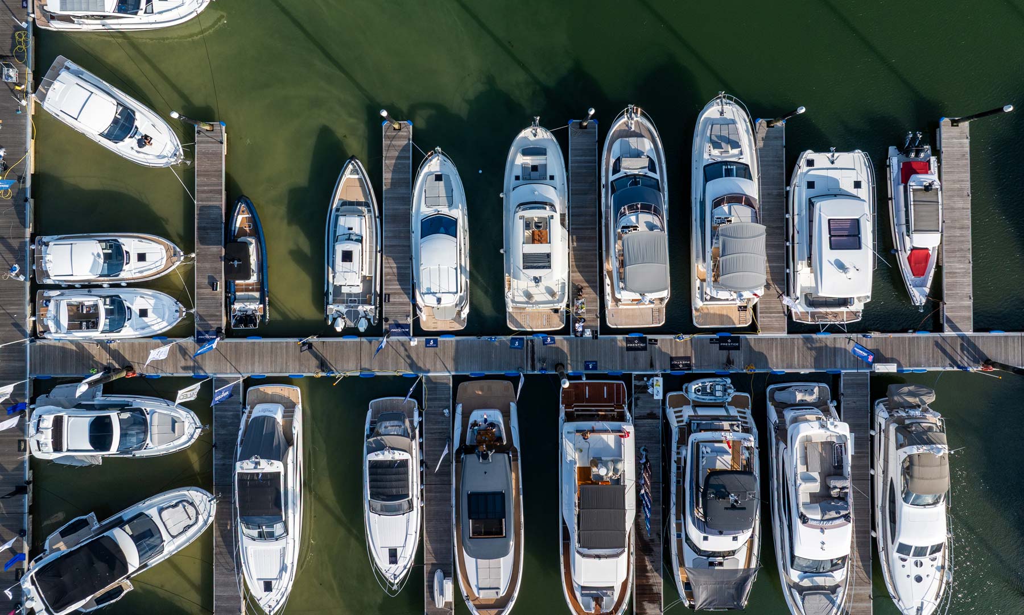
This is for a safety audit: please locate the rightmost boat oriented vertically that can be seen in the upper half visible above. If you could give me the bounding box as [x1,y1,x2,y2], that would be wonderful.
[883,130,943,311]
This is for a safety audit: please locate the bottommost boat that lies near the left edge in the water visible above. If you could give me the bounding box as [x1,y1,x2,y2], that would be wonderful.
[14,490,227,615]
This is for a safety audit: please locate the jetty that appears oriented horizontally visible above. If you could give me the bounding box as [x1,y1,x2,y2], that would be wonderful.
[32,329,1024,380]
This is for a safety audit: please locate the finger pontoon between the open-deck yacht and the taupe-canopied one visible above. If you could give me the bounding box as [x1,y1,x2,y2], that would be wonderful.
[839,371,872,615]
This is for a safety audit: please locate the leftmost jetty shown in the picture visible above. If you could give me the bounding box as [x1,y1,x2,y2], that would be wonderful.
[0,0,37,615]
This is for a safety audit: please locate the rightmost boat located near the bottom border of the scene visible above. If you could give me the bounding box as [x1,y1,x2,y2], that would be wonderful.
[870,397,965,615]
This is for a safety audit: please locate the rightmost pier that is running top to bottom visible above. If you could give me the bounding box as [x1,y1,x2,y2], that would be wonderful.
[935,116,973,333]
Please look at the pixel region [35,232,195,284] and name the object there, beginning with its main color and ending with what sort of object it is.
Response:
white boat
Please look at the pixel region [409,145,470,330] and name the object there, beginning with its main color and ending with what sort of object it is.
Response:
white boat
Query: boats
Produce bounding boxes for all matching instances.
[764,382,856,615]
[37,287,198,340]
[453,380,523,615]
[225,194,270,328]
[664,391,769,612]
[785,147,891,333]
[364,397,422,598]
[36,56,191,167]
[234,384,306,615]
[689,91,766,328]
[600,102,669,328]
[14,490,227,615]
[35,232,195,284]
[772,384,818,402]
[883,130,943,311]
[558,379,635,615]
[503,115,568,330]
[409,145,470,330]
[870,397,965,615]
[324,156,382,331]
[35,0,214,32]
[18,383,211,469]
[683,377,734,404]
